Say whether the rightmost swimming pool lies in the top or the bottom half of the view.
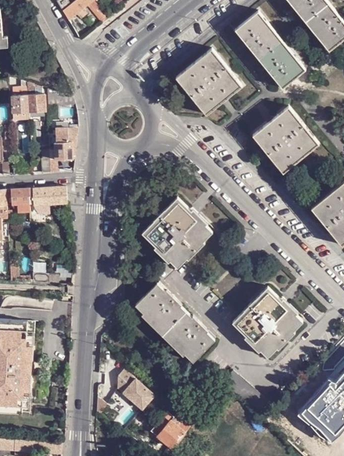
bottom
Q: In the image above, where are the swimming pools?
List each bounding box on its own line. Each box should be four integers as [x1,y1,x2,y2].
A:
[0,104,10,124]
[22,256,31,272]
[21,133,30,155]
[114,392,138,426]
[59,105,76,120]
